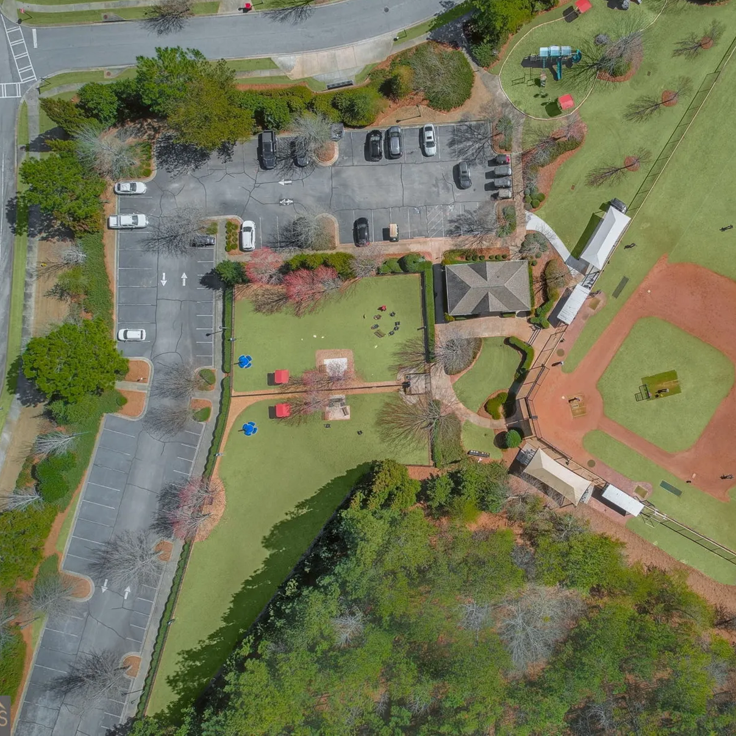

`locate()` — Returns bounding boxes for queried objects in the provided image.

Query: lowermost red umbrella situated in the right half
[557,92,576,112]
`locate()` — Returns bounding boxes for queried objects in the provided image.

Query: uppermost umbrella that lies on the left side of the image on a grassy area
[275,369,291,383]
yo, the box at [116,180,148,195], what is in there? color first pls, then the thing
white car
